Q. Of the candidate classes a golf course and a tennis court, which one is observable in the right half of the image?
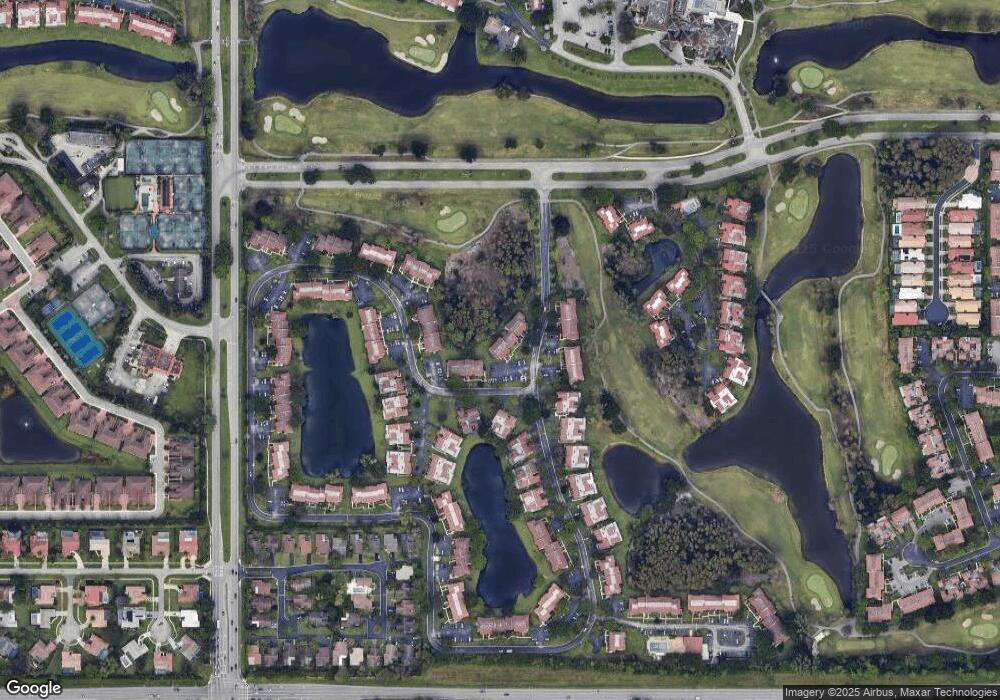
golf course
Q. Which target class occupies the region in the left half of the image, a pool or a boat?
pool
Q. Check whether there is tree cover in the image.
Yes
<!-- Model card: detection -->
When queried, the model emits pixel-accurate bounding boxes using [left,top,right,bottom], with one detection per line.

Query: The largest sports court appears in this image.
[48,308,104,367]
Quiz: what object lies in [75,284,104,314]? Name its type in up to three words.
tennis court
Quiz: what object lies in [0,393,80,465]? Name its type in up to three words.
pond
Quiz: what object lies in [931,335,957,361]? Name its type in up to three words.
house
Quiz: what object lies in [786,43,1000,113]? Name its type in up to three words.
golf course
